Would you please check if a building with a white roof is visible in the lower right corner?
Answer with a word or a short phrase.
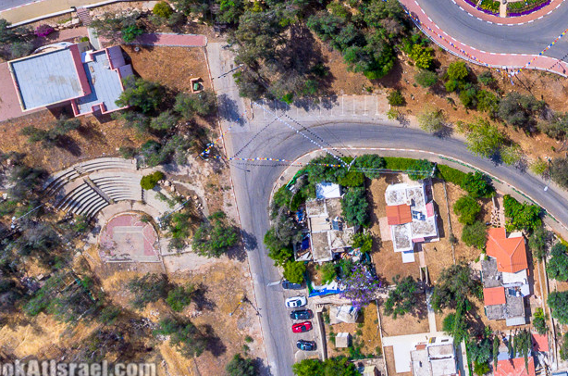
Yes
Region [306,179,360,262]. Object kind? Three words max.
house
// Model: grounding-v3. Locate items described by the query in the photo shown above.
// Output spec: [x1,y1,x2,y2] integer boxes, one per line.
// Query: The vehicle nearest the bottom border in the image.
[294,340,317,353]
